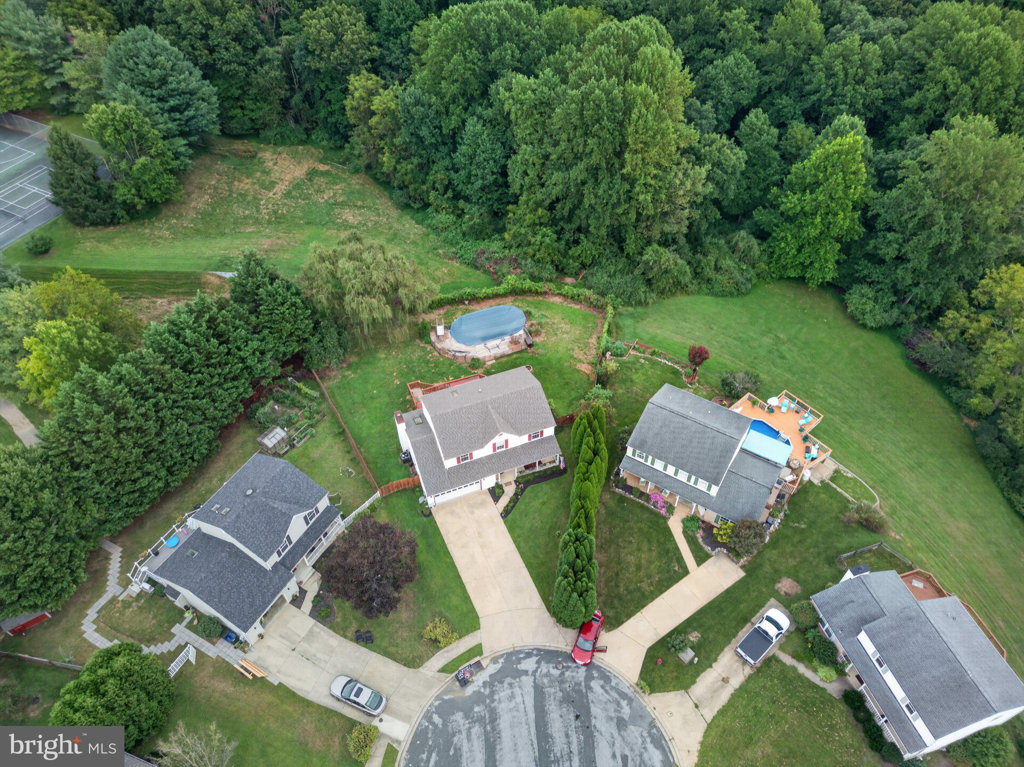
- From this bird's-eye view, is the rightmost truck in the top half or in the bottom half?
bottom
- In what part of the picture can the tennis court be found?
top left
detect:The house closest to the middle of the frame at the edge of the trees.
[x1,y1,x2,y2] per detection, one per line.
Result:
[392,366,563,509]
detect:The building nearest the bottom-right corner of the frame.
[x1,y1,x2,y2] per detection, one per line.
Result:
[812,559,1024,763]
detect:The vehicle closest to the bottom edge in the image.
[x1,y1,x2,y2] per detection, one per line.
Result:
[328,677,389,718]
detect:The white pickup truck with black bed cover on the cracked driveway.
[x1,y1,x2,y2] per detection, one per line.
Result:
[732,608,790,668]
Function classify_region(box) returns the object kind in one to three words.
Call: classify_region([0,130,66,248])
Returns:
tennis court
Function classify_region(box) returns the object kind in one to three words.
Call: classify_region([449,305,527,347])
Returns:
swimming pool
